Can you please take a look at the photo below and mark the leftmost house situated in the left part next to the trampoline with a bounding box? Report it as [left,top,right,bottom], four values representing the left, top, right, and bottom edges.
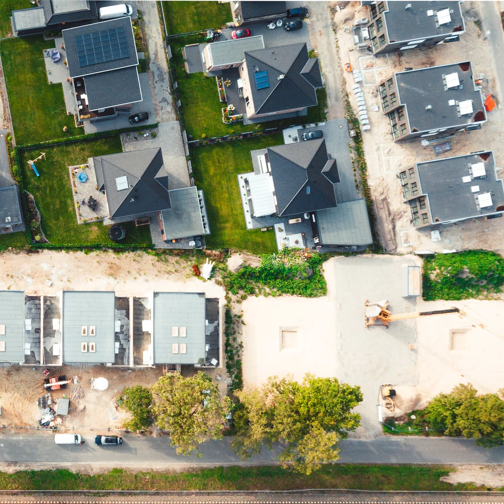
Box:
[94,148,172,218]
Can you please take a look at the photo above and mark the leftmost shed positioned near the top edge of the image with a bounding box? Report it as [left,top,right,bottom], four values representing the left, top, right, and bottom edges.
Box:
[12,7,47,37]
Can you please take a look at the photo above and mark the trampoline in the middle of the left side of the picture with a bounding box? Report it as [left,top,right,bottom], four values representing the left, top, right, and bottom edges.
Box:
[110,224,127,240]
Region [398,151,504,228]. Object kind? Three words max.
building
